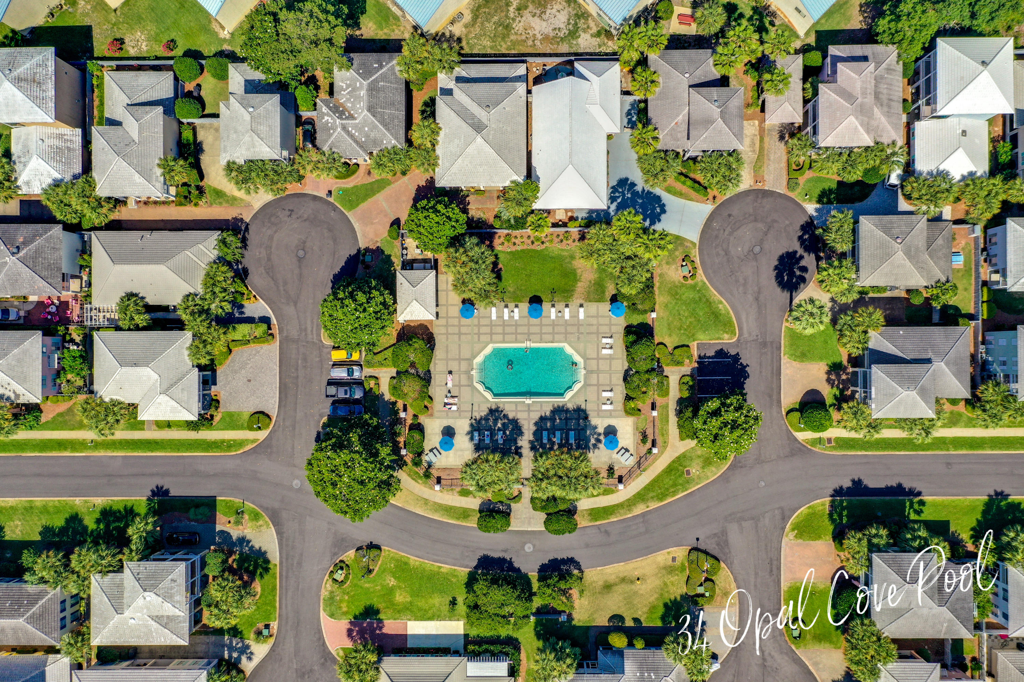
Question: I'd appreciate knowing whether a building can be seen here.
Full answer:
Yes, I can see a building in this picture.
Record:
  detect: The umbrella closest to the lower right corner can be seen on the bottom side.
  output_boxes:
[604,435,618,450]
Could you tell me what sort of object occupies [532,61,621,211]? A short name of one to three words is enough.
house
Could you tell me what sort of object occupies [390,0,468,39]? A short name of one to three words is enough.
building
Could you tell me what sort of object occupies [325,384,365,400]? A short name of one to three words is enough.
vehicle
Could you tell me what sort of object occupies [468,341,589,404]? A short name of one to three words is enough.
swimming pool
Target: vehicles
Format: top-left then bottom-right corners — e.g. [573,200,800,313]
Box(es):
[166,532,200,546]
[330,350,361,363]
[882,160,900,191]
[330,365,363,380]
[300,117,316,150]
[0,306,22,322]
[325,384,365,400]
[330,403,364,419]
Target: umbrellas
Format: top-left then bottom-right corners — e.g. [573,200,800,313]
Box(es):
[610,302,626,317]
[604,435,618,450]
[528,303,543,319]
[460,304,475,319]
[439,436,454,452]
